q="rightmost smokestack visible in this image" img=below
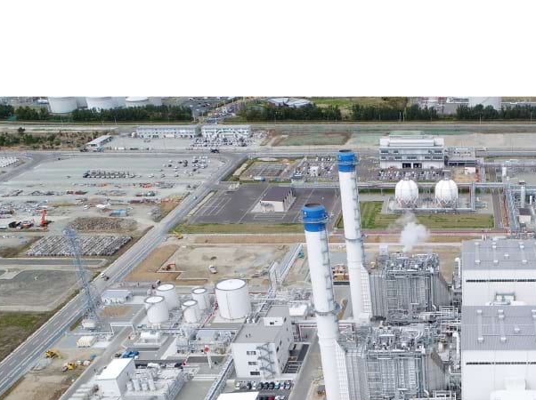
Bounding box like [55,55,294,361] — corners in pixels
[335,154,366,324]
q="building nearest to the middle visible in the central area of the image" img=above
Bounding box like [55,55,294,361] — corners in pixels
[260,191,297,211]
